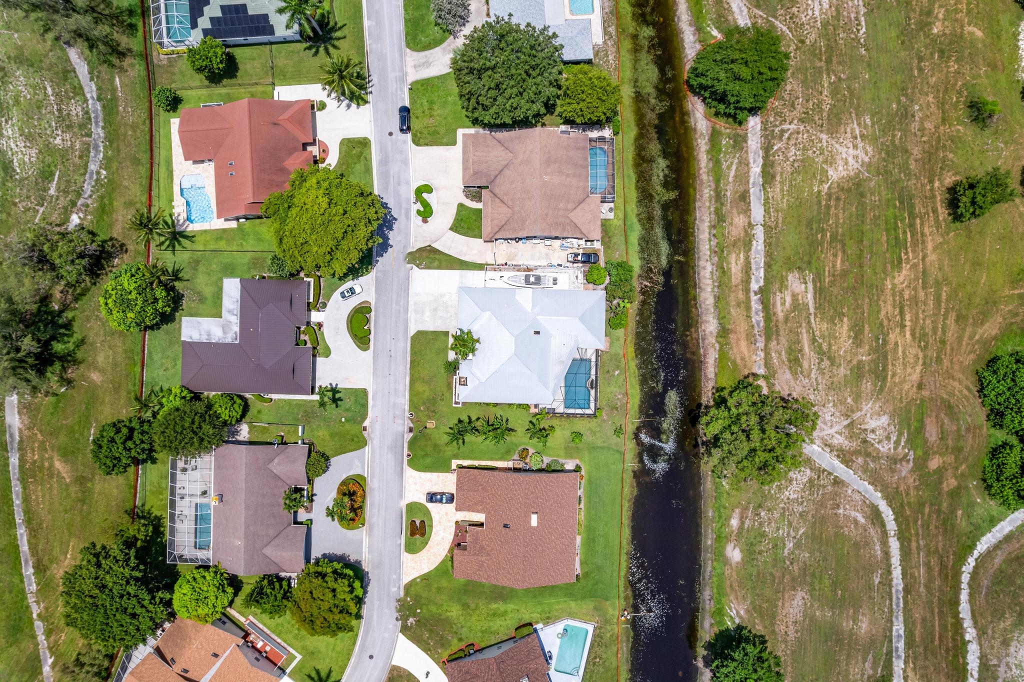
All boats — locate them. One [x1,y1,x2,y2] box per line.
[486,272,562,289]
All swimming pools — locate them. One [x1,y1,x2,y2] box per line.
[165,0,191,43]
[569,0,595,15]
[194,502,212,550]
[552,622,590,677]
[590,145,609,195]
[179,174,214,224]
[564,358,592,410]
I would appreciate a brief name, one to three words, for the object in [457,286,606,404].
house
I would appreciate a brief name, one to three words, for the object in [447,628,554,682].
house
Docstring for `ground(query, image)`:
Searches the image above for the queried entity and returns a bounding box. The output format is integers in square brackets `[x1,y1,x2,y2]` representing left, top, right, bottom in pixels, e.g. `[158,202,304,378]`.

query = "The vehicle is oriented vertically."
[397,105,411,134]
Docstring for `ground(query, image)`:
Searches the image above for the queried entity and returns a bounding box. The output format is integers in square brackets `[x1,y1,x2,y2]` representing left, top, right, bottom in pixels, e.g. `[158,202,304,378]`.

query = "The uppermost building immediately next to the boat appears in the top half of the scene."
[462,128,601,241]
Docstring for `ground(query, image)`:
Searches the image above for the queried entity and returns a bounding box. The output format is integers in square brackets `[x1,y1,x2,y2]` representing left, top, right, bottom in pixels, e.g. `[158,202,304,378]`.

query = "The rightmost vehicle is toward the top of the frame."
[567,251,599,265]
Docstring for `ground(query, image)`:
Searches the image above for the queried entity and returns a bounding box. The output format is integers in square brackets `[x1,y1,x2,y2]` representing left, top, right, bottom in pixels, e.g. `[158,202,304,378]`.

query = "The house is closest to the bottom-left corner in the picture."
[123,611,293,682]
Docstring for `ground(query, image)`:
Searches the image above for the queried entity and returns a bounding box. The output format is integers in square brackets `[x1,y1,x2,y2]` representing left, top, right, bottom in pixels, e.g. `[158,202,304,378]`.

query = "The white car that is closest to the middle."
[337,283,365,301]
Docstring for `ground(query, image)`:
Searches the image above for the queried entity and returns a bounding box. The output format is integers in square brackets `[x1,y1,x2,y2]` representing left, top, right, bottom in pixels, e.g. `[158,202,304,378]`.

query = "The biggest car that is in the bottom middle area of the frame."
[426,491,454,505]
